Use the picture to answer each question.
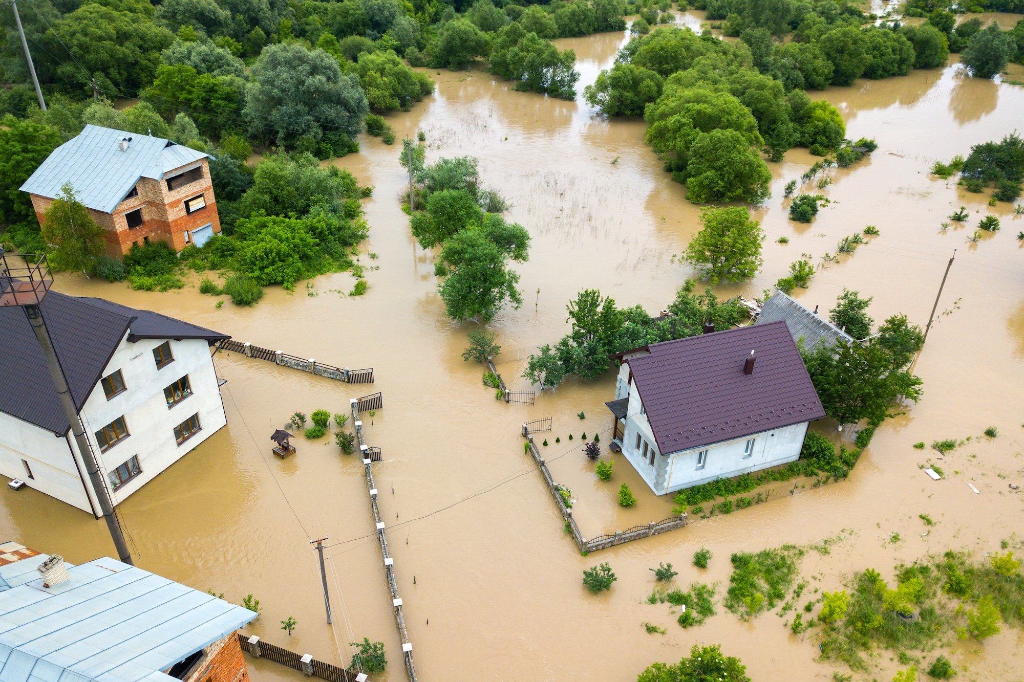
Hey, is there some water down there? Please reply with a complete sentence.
Yes, water can be seen from above here.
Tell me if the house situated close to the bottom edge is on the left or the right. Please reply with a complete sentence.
The house situated close to the bottom edge sits on the left side.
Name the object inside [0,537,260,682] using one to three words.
house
